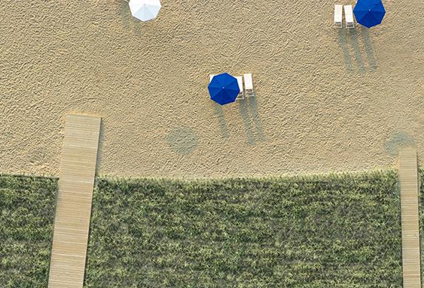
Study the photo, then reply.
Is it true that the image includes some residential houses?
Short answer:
No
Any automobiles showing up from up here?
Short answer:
No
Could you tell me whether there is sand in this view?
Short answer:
Yes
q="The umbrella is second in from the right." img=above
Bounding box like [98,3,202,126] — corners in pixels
[208,73,240,105]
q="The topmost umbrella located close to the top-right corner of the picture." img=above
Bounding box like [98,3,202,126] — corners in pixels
[353,0,385,28]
